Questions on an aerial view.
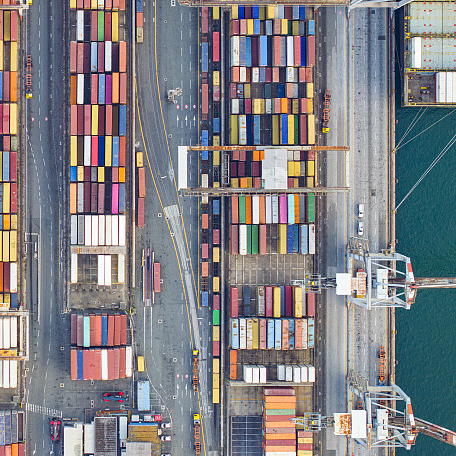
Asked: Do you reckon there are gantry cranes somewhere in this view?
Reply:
Yes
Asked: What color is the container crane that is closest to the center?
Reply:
white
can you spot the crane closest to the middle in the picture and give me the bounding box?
[177,140,349,201]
